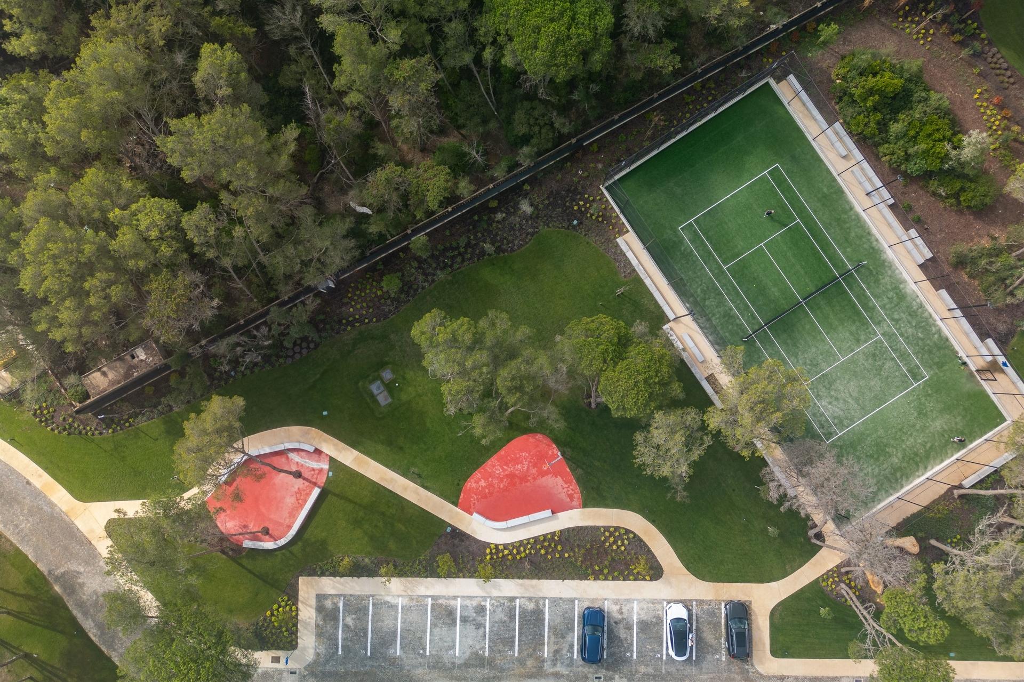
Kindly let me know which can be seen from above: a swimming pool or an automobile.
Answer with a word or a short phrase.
automobile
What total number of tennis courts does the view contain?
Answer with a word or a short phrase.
1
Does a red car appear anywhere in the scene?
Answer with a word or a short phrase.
No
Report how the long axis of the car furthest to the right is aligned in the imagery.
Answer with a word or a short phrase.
vertically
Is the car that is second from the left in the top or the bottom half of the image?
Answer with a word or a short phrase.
bottom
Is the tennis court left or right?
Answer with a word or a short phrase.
right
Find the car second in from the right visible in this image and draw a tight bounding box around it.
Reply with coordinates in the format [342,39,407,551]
[665,604,690,662]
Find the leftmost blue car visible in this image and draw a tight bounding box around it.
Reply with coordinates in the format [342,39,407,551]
[581,607,608,665]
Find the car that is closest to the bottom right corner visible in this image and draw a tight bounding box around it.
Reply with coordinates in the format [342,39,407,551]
[723,602,750,660]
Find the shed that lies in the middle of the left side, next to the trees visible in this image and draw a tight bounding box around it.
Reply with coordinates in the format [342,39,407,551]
[81,340,172,399]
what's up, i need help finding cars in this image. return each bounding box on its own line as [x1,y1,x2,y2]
[723,602,750,660]
[665,604,690,662]
[581,607,608,665]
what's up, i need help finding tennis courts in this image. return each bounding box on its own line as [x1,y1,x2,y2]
[608,73,1019,541]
